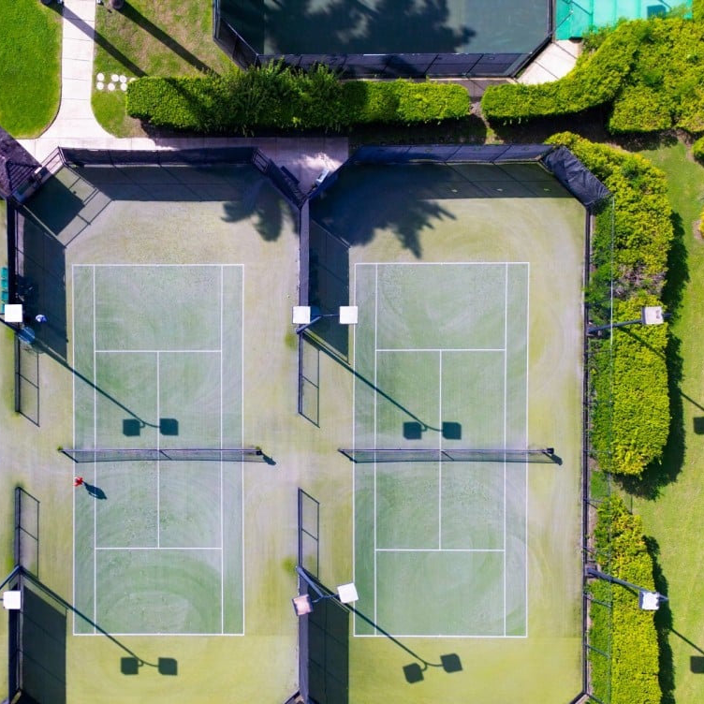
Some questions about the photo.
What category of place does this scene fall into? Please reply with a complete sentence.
It's a sports ground.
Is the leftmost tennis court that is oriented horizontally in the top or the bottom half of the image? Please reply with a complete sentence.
It is in the top half that the leftmost tennis court that is oriented horizontally appears.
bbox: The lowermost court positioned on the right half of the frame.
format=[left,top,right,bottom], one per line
[299,163,587,704]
